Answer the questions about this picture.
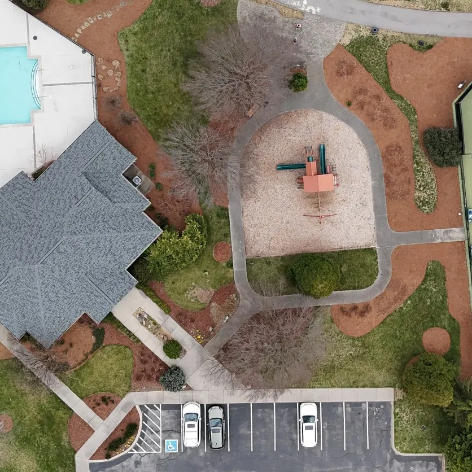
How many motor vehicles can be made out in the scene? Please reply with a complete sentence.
I count 3 motor vehicles.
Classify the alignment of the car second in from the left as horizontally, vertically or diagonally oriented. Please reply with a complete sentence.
I'd say the car second in from the left is aligned vertically in the picture.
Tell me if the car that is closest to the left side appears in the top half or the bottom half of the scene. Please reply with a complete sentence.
You can find the car that is closest to the left side in the bottom half.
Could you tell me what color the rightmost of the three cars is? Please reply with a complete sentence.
The color of the rightmost of the three cars is white.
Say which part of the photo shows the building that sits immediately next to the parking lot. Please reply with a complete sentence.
The building that sits immediately next to the parking lot is located in the left region of the scene.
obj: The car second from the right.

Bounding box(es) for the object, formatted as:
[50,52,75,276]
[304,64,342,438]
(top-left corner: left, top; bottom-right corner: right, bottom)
[206,405,226,451]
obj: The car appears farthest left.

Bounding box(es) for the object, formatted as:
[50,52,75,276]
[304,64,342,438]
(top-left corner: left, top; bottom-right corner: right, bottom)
[181,401,202,448]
